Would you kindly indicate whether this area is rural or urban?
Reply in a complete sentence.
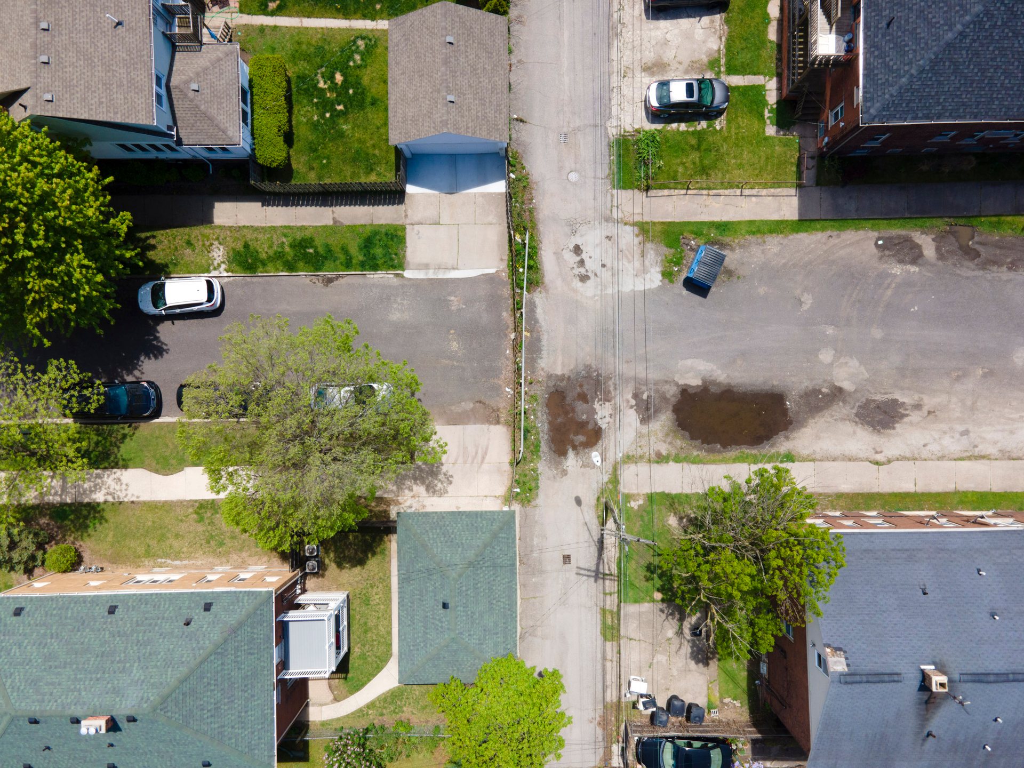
This place is urban.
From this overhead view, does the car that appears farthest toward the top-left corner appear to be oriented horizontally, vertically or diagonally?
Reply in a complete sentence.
Seen from above, the car that appears farthest toward the top-left corner lies horizontally.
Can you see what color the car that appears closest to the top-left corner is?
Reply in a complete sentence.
The car that appears closest to the top-left corner is white.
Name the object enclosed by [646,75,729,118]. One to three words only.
car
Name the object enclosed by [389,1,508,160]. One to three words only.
building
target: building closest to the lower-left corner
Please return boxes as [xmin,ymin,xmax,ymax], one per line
[0,568,306,768]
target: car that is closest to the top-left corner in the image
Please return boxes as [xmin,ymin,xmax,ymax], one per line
[138,275,220,315]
